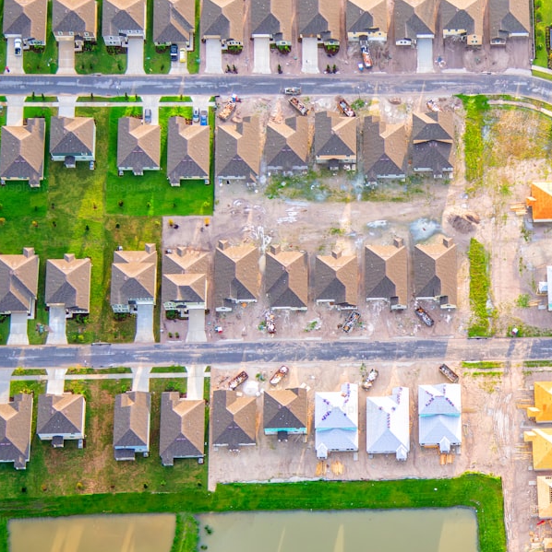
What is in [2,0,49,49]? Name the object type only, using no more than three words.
house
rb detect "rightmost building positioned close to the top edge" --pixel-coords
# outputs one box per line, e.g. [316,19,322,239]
[488,0,530,48]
